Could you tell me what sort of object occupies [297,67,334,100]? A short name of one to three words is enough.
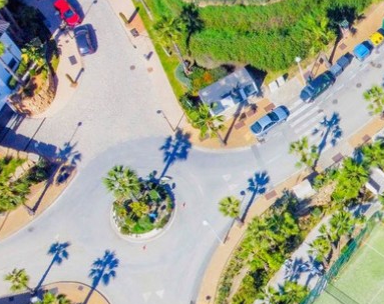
car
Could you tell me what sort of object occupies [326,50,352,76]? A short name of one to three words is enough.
car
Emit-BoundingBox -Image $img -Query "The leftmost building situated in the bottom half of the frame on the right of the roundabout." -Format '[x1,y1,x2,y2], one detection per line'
[288,175,314,200]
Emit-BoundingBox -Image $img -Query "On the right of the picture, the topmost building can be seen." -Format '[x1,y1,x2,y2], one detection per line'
[199,67,265,123]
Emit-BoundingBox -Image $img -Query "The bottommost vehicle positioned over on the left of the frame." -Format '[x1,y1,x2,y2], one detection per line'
[71,21,96,54]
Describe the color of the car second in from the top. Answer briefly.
blue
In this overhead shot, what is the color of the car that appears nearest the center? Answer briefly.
blue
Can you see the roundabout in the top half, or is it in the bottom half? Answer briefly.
bottom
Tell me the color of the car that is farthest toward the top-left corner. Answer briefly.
red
